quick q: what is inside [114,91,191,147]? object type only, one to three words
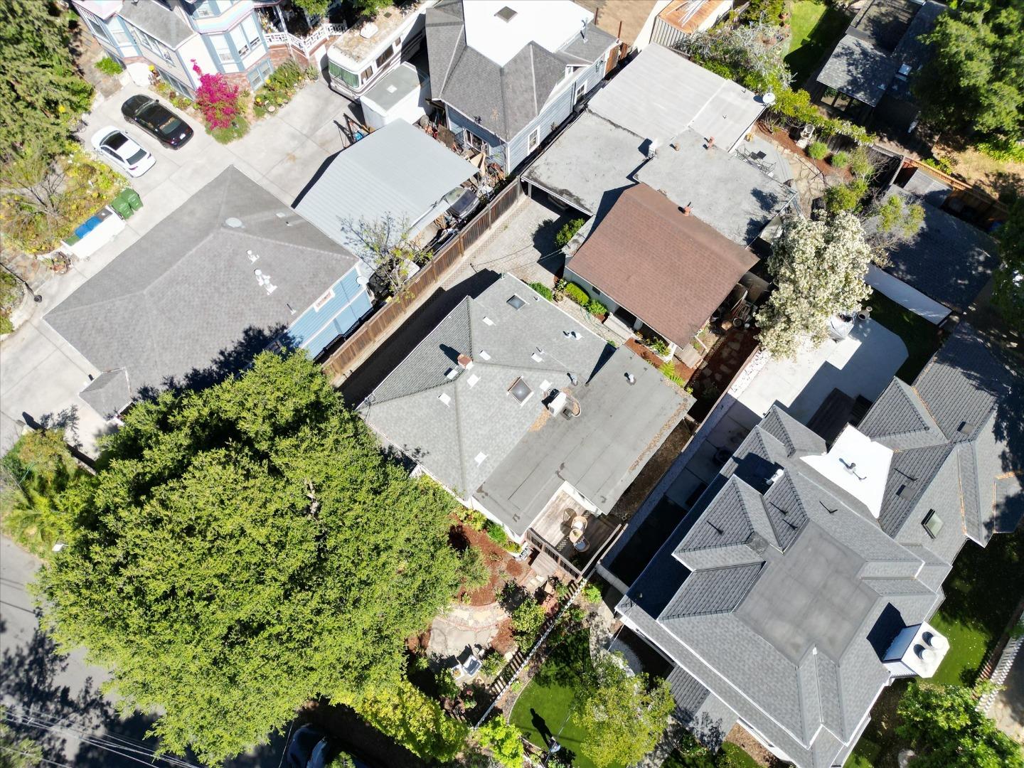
car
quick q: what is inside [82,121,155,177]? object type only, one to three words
car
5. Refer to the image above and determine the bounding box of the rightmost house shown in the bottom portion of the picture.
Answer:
[614,335,1024,768]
